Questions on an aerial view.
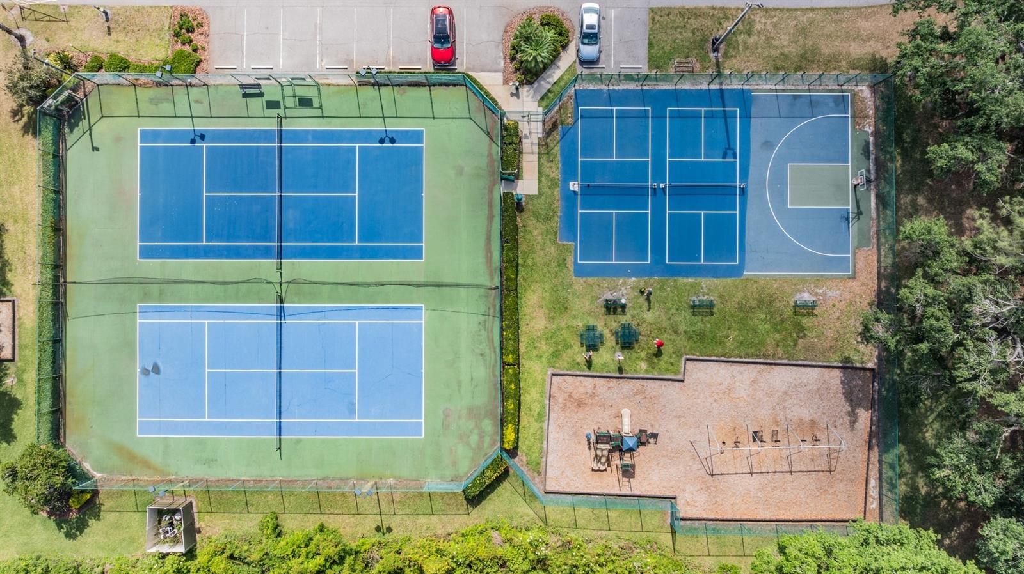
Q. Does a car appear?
Yes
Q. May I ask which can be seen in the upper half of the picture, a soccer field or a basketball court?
basketball court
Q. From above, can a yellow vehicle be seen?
No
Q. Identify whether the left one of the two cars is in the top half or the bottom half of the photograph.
top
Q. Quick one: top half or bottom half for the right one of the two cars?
top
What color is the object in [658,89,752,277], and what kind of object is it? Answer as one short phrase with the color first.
blue sports court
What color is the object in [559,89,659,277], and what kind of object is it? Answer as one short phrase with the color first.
blue sports court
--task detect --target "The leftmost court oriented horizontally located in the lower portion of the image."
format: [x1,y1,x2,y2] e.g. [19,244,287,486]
[66,282,500,479]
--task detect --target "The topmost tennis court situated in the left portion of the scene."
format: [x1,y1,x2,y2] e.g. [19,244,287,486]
[66,85,500,282]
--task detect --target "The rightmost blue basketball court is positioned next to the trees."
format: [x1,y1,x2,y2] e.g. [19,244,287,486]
[743,88,871,277]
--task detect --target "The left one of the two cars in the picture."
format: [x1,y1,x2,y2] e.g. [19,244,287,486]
[428,5,457,67]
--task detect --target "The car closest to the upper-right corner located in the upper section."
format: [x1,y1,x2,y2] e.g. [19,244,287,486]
[576,1,603,63]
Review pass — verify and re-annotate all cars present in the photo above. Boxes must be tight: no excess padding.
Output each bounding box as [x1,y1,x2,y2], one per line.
[428,5,457,67]
[576,1,603,63]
